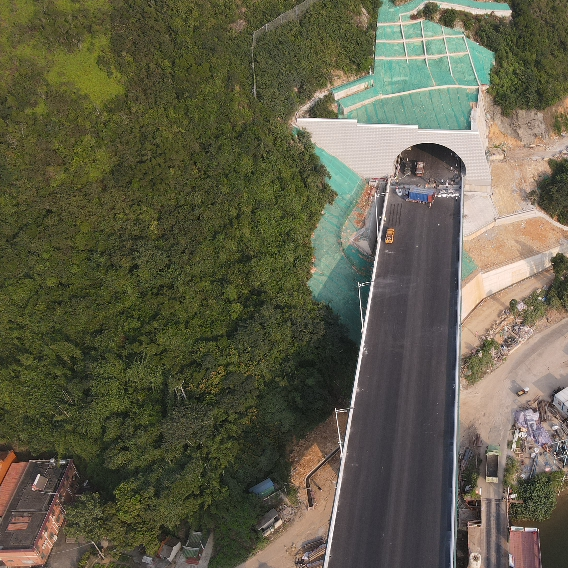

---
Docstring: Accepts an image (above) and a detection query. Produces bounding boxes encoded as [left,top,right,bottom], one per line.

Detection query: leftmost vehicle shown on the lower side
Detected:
[487,441,500,483]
